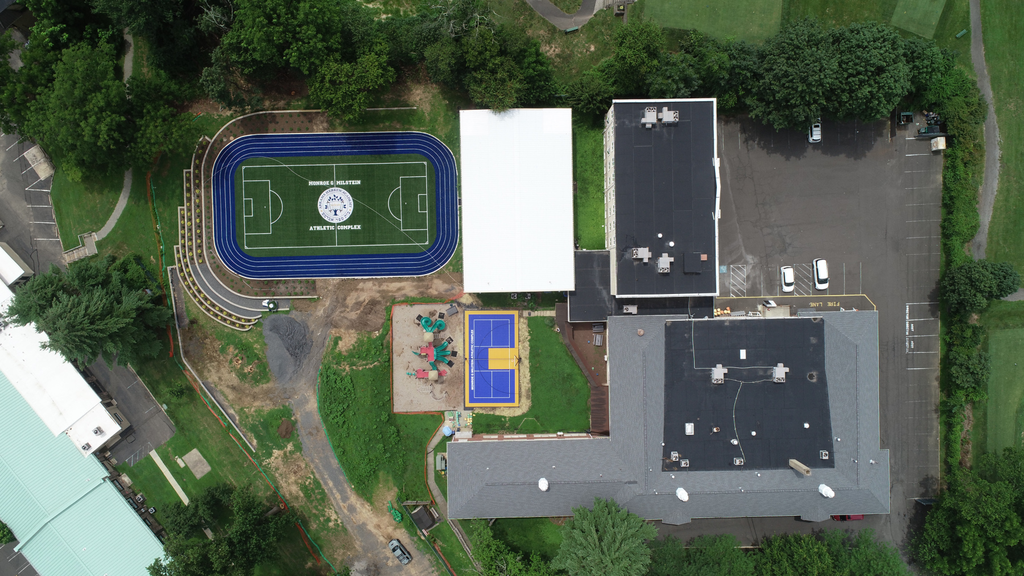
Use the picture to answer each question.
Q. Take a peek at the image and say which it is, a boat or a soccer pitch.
soccer pitch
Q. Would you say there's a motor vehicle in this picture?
Yes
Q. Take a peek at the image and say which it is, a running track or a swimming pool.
running track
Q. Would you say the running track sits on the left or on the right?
left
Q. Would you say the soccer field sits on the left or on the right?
left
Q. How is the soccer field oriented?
from left to right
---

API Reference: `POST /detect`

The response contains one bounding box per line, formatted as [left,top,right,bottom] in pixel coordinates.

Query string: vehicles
[261,302,276,312]
[831,514,866,522]
[806,115,823,145]
[388,536,412,568]
[812,258,830,290]
[779,266,796,293]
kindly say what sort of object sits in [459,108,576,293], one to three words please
building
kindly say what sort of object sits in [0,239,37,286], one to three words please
building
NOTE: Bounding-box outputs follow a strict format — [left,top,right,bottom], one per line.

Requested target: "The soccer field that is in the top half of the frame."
[234,154,436,256]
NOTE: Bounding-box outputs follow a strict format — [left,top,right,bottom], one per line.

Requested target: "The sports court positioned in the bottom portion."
[465,310,519,407]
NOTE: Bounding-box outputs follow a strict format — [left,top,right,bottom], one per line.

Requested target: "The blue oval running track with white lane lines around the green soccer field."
[211,131,459,279]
